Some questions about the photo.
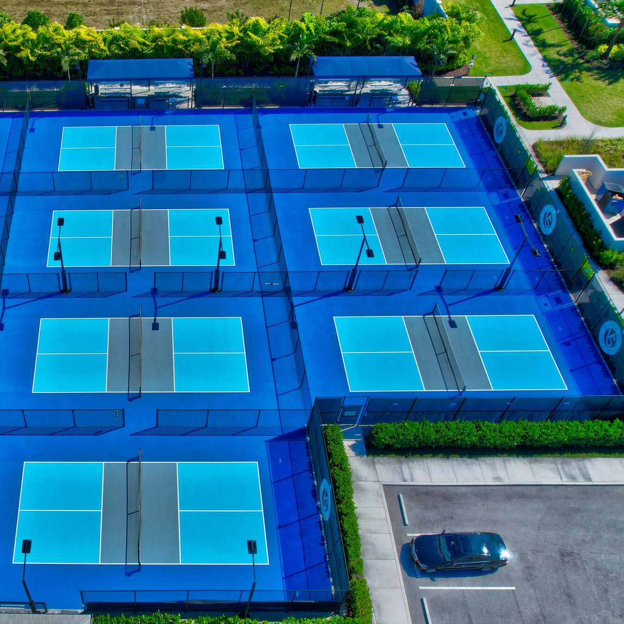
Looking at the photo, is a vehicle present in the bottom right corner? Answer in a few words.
Yes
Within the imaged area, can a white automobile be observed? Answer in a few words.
No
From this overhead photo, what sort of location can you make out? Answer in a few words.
sports ground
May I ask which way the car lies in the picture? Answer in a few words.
from left to right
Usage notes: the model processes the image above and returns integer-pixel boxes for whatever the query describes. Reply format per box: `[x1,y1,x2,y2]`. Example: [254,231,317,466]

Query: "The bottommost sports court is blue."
[0,426,333,605]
